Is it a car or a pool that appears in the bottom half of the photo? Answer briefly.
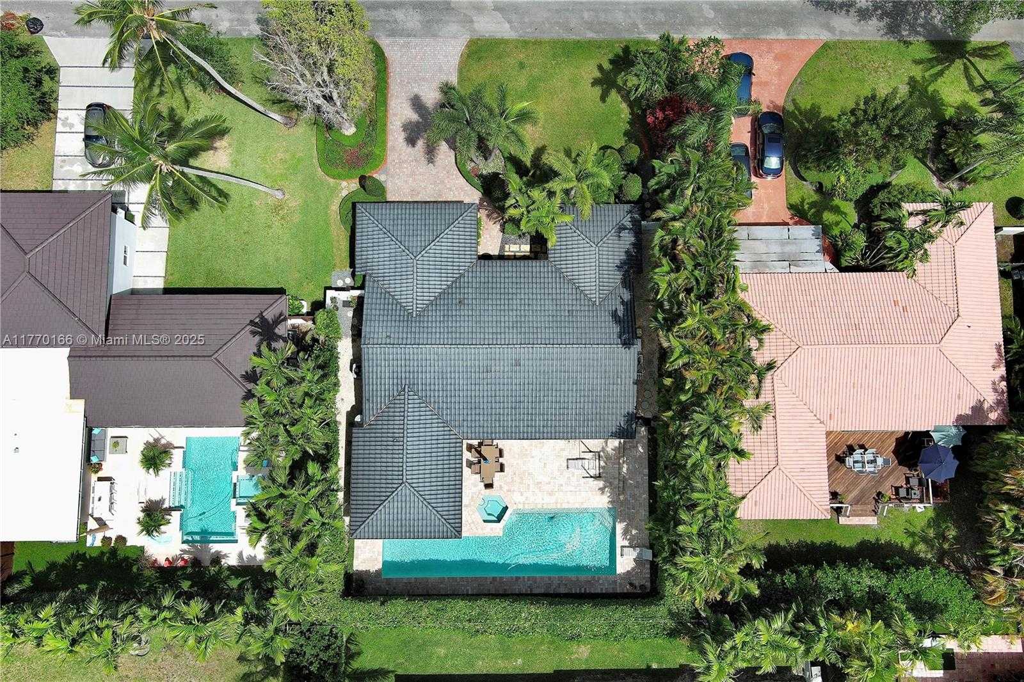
pool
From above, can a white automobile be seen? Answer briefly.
No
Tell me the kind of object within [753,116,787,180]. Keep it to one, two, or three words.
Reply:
car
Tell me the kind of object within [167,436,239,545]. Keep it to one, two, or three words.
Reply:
swimming pool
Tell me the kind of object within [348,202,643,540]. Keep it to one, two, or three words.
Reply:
house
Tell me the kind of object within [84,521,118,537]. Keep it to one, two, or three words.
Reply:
umbrella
